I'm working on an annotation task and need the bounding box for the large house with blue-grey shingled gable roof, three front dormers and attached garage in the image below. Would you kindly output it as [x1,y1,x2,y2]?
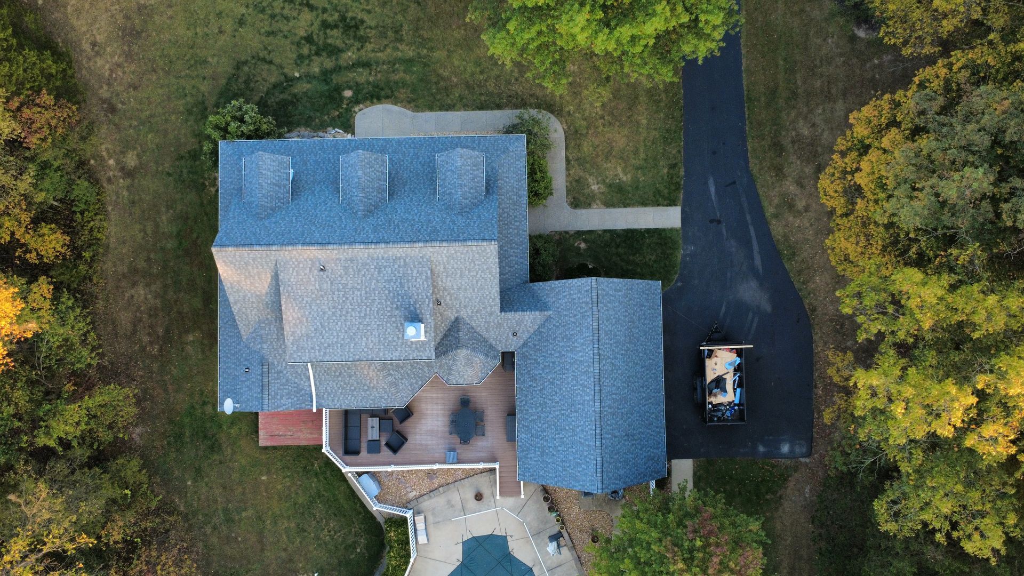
[212,133,670,492]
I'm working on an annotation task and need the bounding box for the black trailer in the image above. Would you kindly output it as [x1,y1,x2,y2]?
[694,318,747,425]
